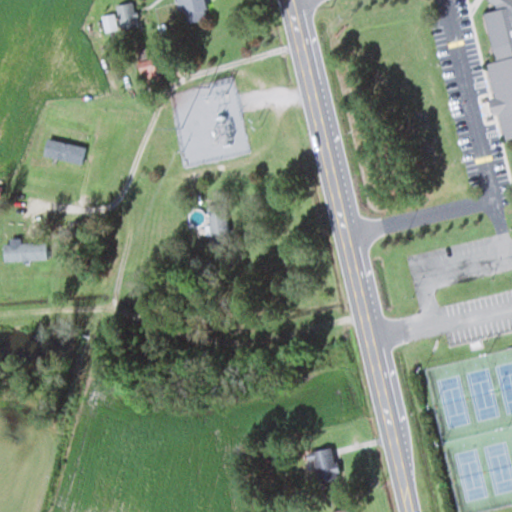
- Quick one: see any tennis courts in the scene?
Yes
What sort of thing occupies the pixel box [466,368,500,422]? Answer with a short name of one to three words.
tennis court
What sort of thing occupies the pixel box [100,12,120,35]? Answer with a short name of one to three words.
barn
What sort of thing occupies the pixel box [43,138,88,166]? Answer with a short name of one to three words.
house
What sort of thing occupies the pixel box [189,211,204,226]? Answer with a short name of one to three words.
swimming pool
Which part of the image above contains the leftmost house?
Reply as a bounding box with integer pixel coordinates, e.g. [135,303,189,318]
[2,236,47,266]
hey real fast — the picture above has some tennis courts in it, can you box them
[495,362,512,415]
[483,442,512,496]
[454,449,488,503]
[437,376,472,430]
[466,368,500,422]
